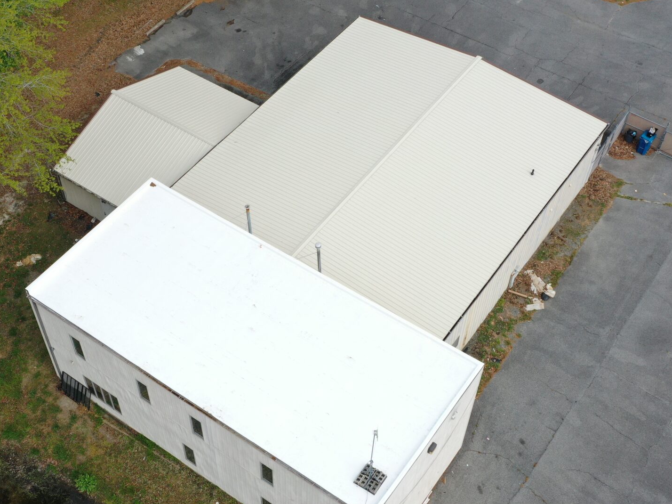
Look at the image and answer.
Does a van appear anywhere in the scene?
No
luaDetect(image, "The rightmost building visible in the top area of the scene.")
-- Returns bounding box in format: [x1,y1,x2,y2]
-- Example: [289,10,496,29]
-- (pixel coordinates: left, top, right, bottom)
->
[167,14,611,349]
